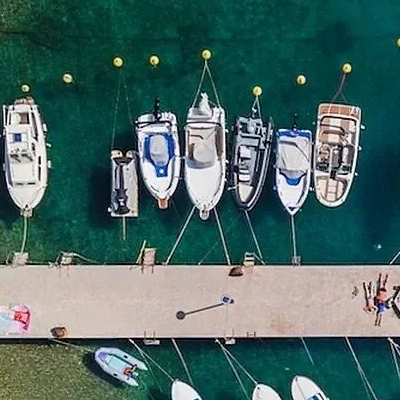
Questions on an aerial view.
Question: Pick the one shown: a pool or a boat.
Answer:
boat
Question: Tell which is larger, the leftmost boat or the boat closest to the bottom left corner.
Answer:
the leftmost boat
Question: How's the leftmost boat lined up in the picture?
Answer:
up and down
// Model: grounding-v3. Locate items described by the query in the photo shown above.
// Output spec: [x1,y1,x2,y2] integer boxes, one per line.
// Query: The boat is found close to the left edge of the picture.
[1,97,52,220]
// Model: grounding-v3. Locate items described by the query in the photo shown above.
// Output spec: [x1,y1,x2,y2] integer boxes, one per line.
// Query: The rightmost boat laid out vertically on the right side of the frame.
[309,102,365,208]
